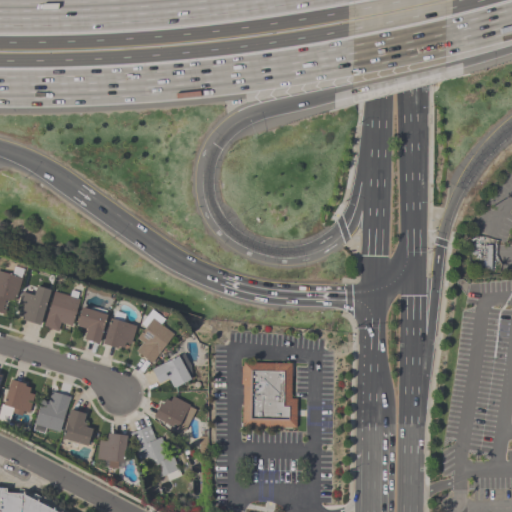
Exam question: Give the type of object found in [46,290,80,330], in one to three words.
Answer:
house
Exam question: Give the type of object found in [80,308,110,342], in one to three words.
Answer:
house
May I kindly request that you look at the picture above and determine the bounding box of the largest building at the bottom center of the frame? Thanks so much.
[244,362,298,428]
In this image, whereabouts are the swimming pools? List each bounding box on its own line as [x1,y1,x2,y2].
[88,296,108,306]
[188,342,198,361]
[125,460,138,482]
[190,417,199,440]
[120,304,138,322]
[71,446,92,459]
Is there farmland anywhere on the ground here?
No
